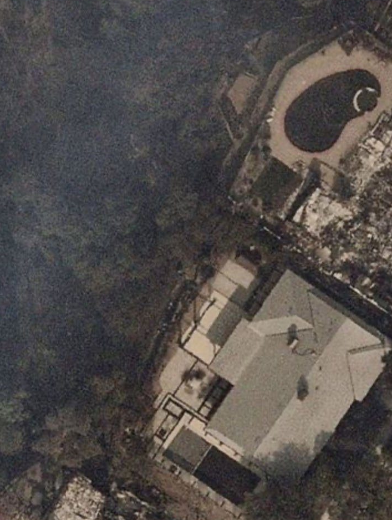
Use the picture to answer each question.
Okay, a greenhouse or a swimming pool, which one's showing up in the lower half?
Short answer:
swimming pool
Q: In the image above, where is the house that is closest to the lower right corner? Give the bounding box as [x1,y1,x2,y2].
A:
[204,270,390,486]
